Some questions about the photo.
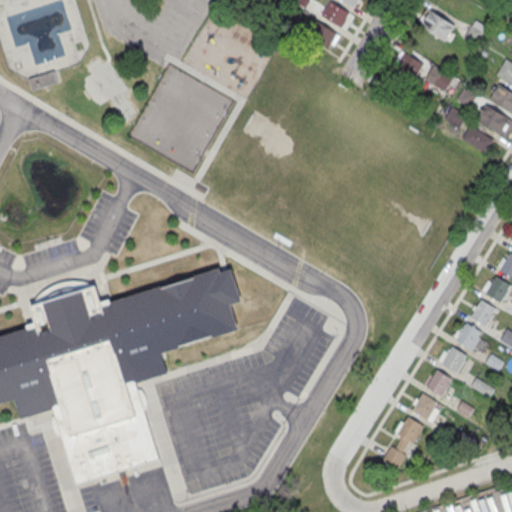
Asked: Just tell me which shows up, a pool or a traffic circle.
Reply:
pool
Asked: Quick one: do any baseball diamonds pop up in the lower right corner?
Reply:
No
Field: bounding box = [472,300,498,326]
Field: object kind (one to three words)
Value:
house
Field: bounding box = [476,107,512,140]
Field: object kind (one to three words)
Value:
house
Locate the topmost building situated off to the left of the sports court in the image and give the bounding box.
[30,70,60,90]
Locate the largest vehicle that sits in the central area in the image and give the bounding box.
[274,233,292,247]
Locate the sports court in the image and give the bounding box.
[133,66,233,170]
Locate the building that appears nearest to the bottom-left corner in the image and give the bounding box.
[0,266,240,484]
